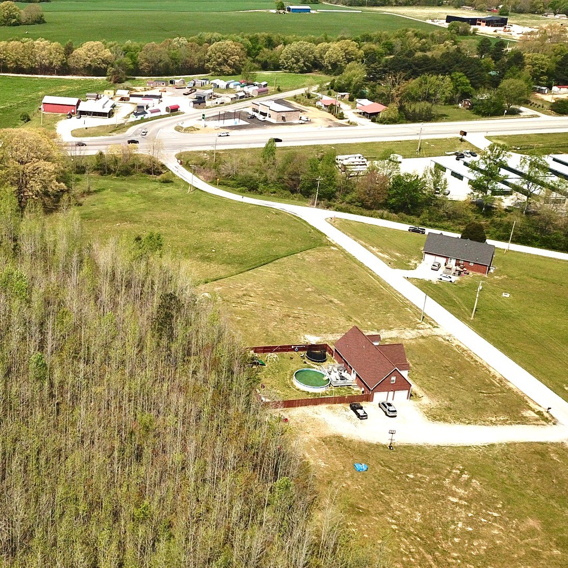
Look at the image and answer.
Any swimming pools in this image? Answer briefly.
Yes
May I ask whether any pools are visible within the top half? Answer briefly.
No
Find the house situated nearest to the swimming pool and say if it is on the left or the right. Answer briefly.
right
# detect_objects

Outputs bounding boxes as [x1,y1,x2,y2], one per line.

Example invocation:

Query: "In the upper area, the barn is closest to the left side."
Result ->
[42,96,79,114]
